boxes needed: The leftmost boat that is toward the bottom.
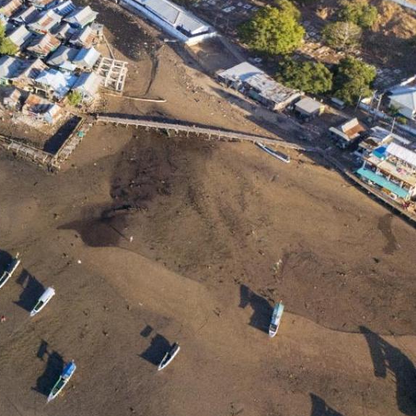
[0,248,24,285]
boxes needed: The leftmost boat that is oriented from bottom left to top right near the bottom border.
[49,350,81,398]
